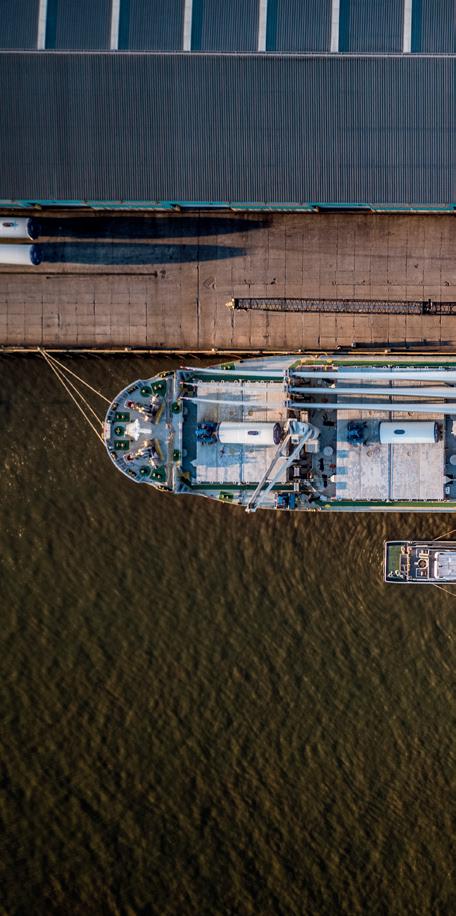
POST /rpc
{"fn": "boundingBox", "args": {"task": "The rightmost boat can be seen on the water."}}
[382,540,456,584]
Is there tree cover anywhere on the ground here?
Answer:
No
